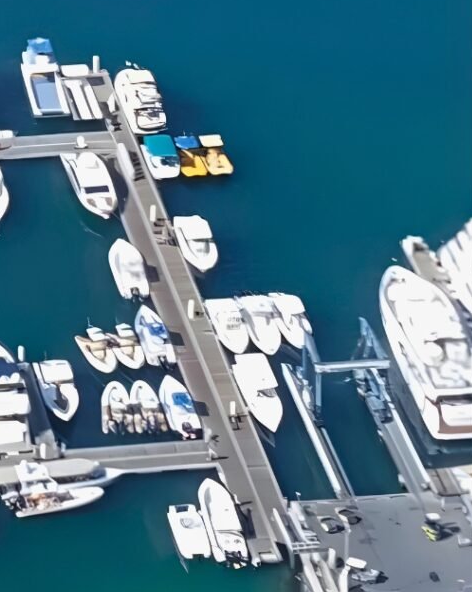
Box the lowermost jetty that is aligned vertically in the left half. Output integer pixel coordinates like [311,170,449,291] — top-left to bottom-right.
[18,362,59,452]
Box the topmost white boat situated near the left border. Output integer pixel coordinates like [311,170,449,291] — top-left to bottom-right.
[19,37,73,117]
